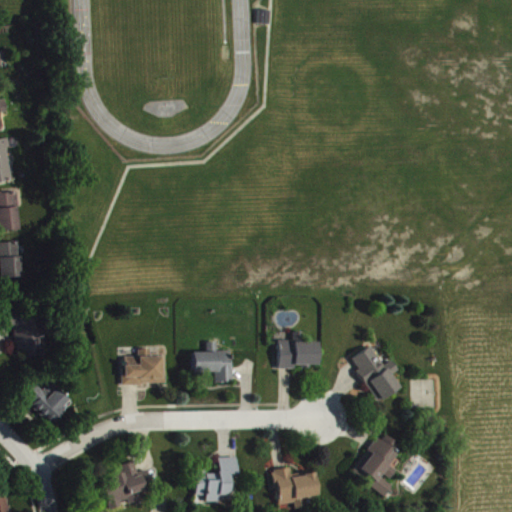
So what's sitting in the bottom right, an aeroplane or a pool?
pool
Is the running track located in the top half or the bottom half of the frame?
top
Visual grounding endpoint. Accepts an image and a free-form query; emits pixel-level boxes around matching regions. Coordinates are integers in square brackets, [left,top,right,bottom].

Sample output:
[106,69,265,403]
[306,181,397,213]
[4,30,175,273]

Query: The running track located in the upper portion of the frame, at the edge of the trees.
[72,0,252,153]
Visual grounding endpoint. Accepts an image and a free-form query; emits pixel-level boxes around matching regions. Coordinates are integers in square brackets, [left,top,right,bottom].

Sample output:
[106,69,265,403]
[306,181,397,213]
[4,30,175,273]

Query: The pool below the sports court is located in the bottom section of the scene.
[400,455,433,494]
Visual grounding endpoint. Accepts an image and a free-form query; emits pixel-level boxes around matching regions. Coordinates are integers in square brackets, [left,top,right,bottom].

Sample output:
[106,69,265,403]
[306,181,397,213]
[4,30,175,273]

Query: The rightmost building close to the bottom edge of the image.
[360,435,398,497]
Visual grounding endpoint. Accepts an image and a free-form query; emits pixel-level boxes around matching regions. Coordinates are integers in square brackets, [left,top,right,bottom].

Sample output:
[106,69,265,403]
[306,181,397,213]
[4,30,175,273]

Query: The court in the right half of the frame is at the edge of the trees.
[410,380,434,408]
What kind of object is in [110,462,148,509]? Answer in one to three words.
house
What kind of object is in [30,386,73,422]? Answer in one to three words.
house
